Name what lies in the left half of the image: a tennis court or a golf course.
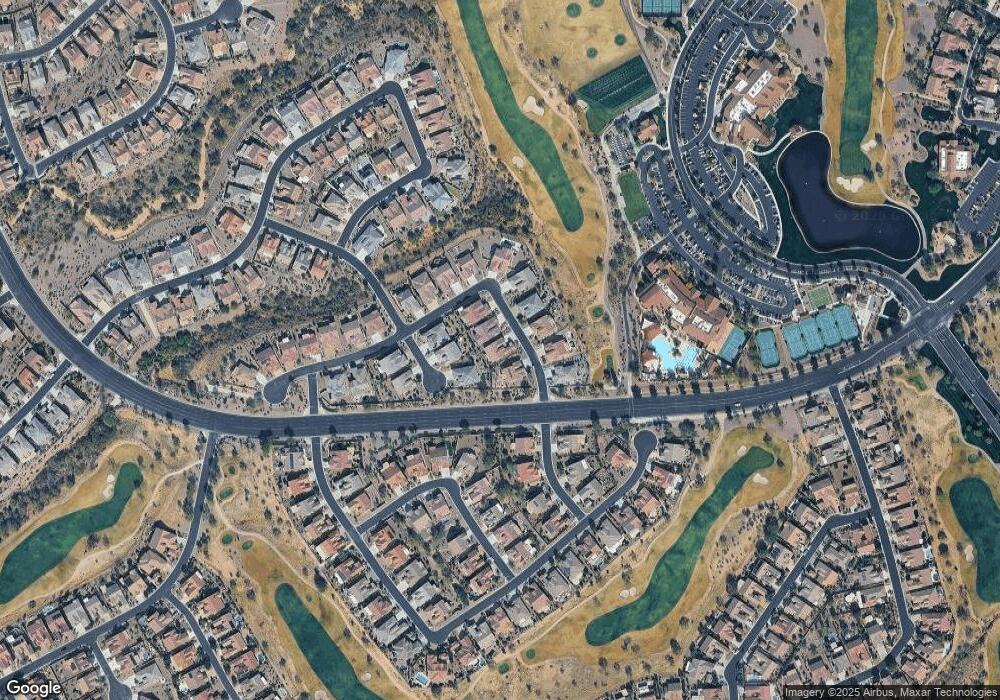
golf course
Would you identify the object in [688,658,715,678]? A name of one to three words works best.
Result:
house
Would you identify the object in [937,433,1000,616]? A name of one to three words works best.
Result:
golf course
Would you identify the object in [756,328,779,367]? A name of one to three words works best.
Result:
tennis court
